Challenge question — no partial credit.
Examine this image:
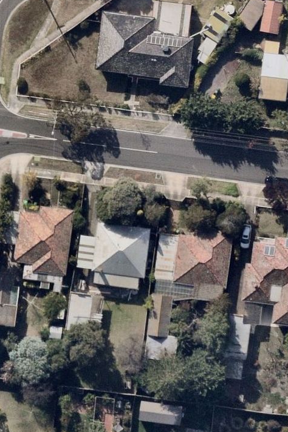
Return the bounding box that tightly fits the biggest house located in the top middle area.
[96,2,194,89]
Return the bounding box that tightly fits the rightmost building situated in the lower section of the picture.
[224,236,288,380]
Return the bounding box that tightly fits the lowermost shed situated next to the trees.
[139,400,183,425]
